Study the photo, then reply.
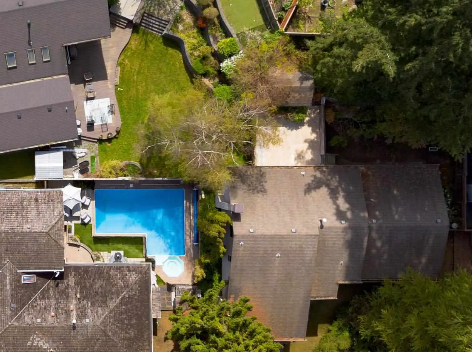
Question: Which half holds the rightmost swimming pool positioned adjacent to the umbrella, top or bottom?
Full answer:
The rightmost swimming pool positioned adjacent to the umbrella sits in the bottom half of the picture.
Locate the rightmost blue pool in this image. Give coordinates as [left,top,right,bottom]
[79,183,201,281]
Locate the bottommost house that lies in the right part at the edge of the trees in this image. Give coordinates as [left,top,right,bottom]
[213,165,449,342]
